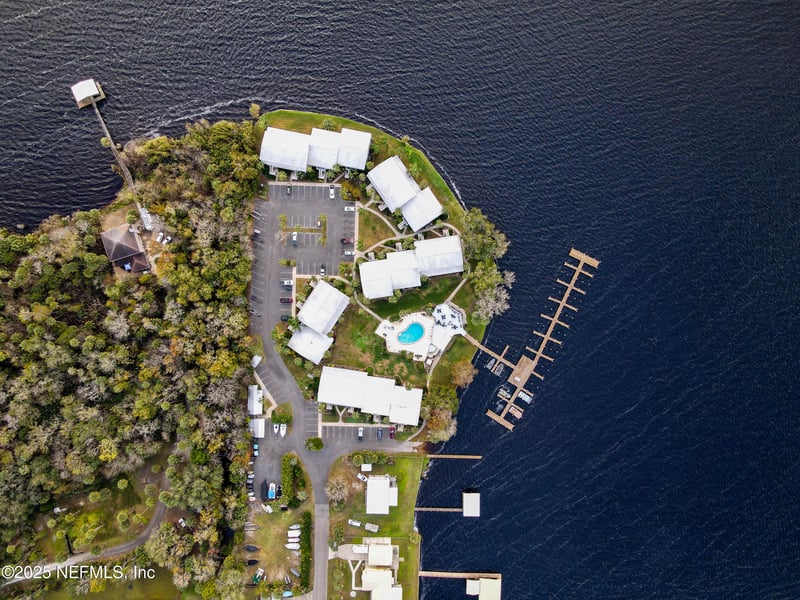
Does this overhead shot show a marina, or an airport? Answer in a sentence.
It's a marina.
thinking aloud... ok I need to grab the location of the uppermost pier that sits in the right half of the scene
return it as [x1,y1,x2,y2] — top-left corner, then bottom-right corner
[462,248,600,430]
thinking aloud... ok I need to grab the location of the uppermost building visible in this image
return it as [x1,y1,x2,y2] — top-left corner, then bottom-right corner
[71,79,105,109]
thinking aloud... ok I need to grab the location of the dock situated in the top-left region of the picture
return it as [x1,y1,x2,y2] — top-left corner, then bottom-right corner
[92,103,142,209]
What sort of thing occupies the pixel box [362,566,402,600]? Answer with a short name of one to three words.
house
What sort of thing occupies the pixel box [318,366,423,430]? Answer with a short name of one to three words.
building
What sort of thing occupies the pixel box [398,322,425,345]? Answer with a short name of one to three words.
swimming pool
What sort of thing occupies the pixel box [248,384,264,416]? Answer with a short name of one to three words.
shed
